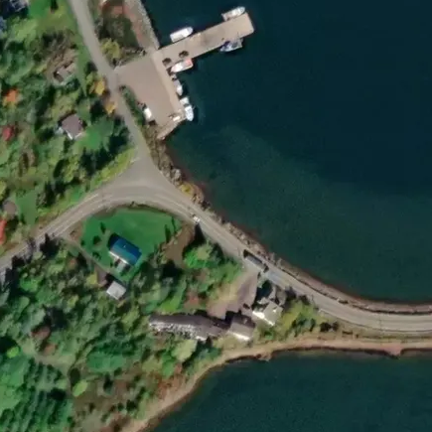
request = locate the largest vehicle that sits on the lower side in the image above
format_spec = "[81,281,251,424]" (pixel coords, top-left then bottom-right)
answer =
[246,255,267,270]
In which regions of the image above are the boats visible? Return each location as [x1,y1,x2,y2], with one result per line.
[170,29,192,42]
[221,38,243,50]
[171,59,194,71]
[222,8,245,21]
[183,105,193,121]
[173,80,183,95]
